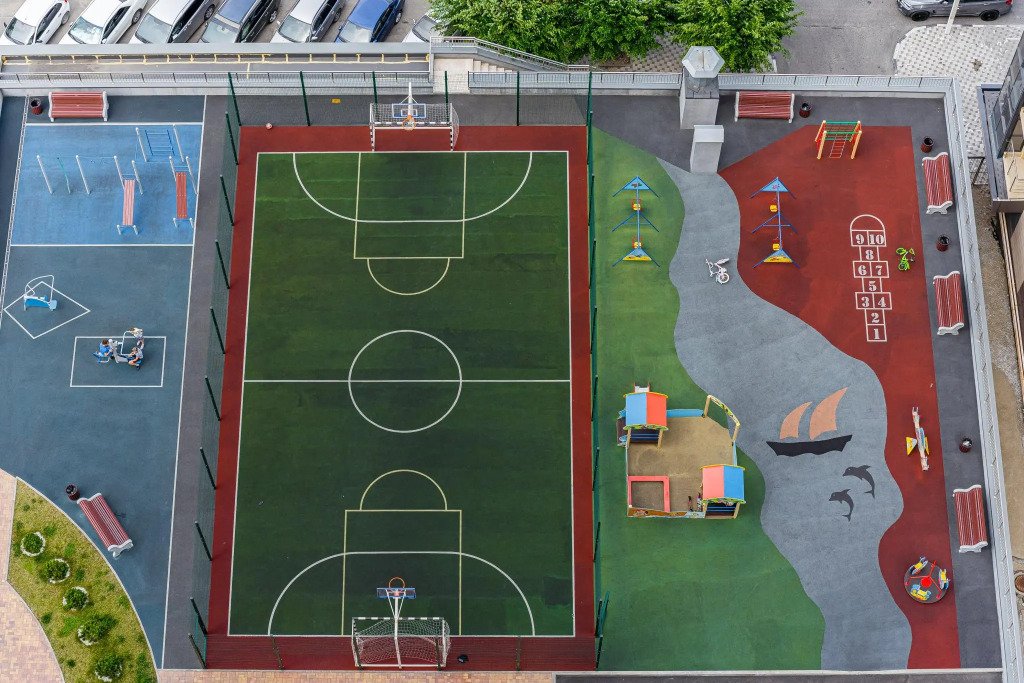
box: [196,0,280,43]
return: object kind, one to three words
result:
car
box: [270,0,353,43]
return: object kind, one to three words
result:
car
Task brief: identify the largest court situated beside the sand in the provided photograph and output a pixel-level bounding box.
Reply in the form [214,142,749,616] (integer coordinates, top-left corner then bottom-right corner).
[205,125,597,670]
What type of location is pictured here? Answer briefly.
sports ground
